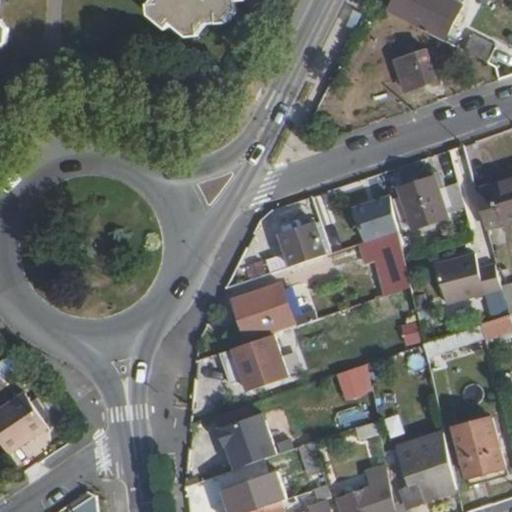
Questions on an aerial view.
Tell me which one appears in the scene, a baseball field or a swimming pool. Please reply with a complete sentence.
This aerial view contains a swimming pool.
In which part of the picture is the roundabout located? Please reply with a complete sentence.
The roundabout is in the left part of the image.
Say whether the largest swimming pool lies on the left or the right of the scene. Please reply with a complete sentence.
The largest swimming pool appears in the right half of the scene.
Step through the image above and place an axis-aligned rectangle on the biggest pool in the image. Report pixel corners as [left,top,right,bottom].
[334,402,370,429]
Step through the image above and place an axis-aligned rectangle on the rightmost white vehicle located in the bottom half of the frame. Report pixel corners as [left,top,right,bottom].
[134,361,146,384]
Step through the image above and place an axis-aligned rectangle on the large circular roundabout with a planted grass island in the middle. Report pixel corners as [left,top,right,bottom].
[0,151,214,365]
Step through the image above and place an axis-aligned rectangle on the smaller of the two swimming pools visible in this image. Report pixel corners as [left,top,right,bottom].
[408,352,426,371]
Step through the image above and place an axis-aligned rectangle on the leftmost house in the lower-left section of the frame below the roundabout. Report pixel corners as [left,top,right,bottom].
[0,384,53,468]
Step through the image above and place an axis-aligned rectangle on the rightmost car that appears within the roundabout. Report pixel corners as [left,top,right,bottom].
[172,278,188,300]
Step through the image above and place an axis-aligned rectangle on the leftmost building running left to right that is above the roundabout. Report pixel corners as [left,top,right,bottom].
[142,0,240,44]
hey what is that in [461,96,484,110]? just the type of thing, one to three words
vehicle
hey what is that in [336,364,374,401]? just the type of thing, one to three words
shed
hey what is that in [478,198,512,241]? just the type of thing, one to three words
house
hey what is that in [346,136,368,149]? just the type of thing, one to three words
vehicle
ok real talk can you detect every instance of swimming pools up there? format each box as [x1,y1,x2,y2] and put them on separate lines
[408,352,426,371]
[334,402,370,429]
